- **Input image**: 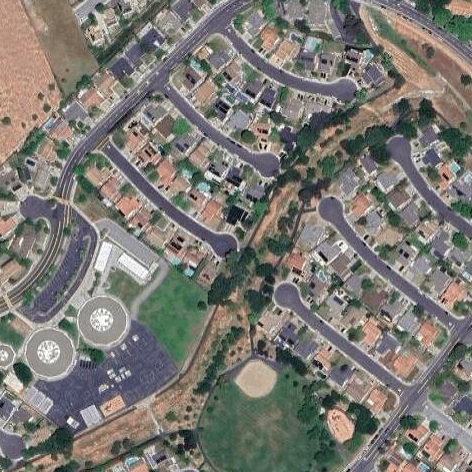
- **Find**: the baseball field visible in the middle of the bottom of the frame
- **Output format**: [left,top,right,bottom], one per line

[199,355,329,472]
